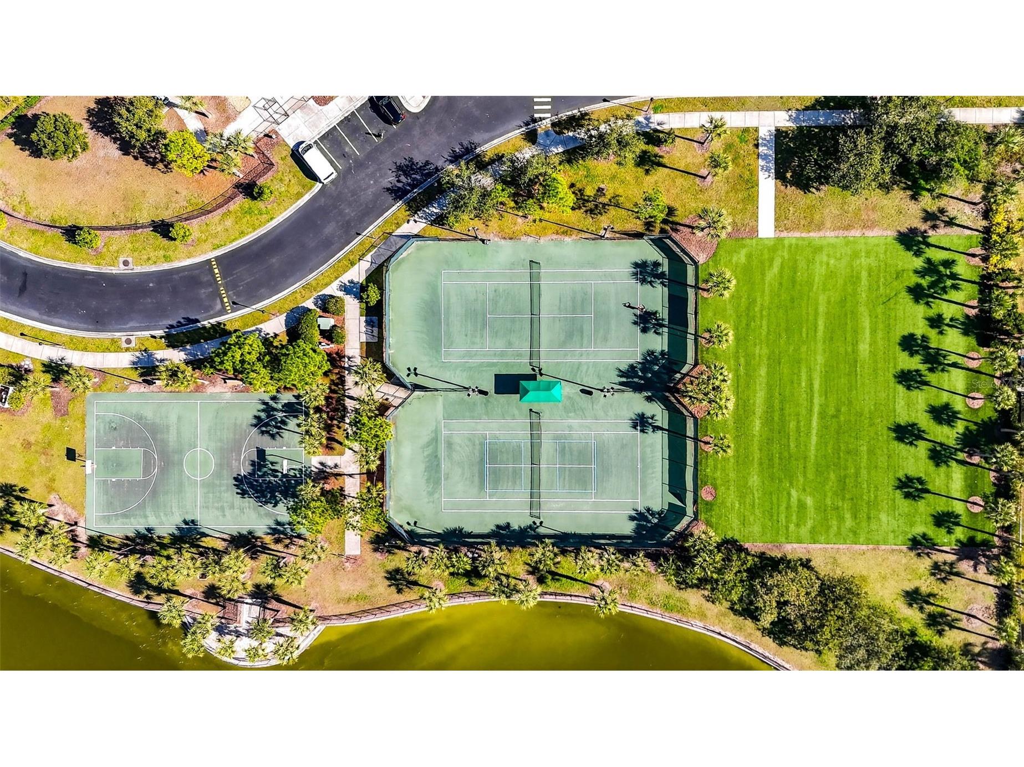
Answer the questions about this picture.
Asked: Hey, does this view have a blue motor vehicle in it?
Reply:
No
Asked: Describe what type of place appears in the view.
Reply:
sports ground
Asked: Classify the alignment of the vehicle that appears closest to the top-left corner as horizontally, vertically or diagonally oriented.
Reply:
diagonally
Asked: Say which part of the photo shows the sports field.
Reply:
right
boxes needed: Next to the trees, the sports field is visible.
[695,234,995,550]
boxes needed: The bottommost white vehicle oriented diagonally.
[303,144,338,187]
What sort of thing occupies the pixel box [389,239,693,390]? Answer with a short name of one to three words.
tennis court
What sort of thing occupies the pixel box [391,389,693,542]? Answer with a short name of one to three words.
tennis court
